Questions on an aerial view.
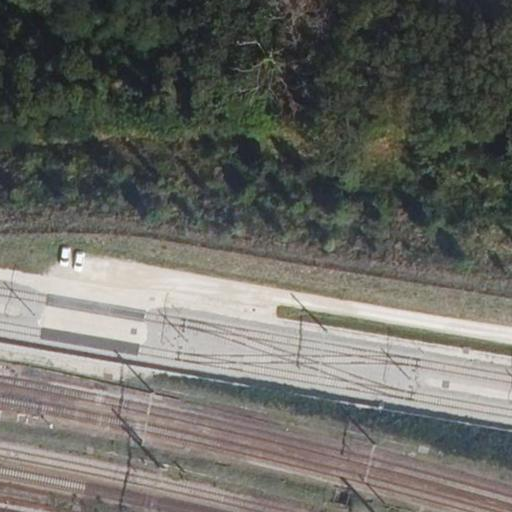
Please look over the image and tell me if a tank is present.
No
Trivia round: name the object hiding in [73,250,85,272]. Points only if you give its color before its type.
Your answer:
white vehicle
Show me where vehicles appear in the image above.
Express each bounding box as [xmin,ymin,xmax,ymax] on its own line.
[73,250,85,272]
[60,246,71,268]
